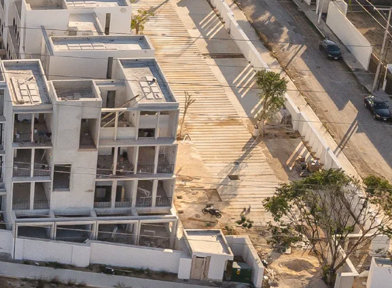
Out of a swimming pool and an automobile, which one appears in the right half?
automobile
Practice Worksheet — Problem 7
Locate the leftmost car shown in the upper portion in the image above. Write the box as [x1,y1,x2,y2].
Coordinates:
[320,34,344,56]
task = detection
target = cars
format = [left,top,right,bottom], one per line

[320,34,344,56]
[367,92,392,116]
